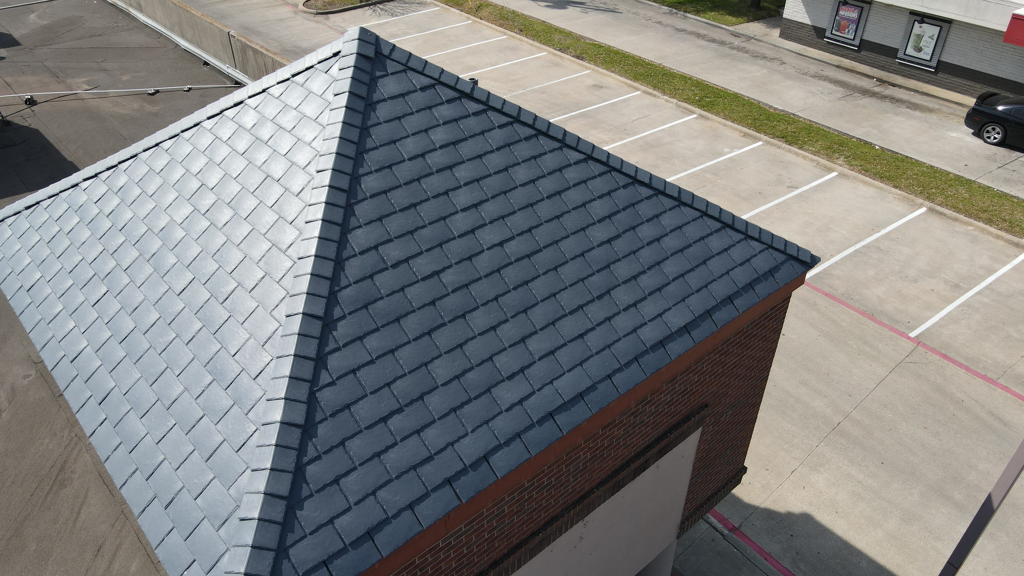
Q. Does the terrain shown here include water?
No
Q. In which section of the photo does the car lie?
top right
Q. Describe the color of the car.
black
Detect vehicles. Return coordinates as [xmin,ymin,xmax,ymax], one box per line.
[966,91,1024,147]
